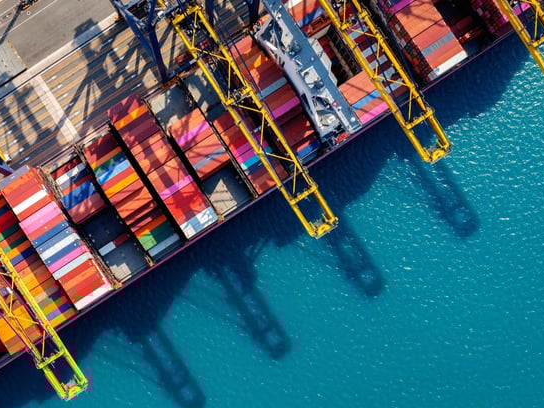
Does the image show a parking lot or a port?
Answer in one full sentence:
It's a port.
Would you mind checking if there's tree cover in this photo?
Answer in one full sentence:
No, there's no tree cover in this view.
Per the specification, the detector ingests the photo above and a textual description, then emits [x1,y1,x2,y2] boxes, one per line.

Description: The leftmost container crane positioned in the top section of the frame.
[104,0,338,239]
